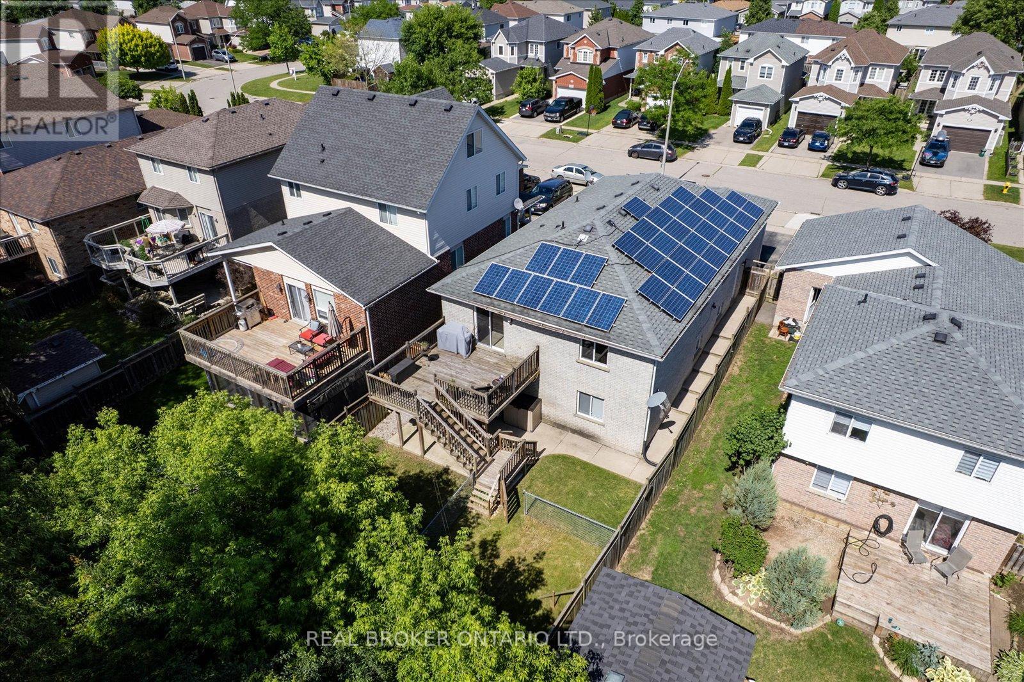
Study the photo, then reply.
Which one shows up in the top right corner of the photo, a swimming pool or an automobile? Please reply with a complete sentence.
Looking in the top right corner of the photo, you will find an automobile.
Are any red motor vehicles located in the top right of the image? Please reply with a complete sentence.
No, there's no red motor vehicle to be seen in the top right of the image.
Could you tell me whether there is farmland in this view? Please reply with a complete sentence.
No, no farmland is visible.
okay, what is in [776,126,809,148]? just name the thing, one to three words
car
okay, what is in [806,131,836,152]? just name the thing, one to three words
car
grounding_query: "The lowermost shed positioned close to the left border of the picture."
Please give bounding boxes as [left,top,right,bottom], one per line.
[0,320,113,430]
